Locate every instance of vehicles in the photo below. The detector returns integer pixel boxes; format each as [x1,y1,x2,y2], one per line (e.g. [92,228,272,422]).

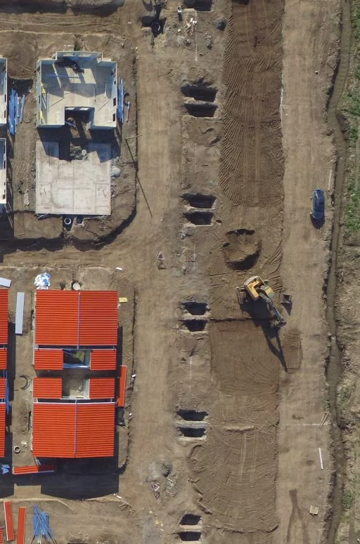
[306,190,325,220]
[235,277,286,330]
